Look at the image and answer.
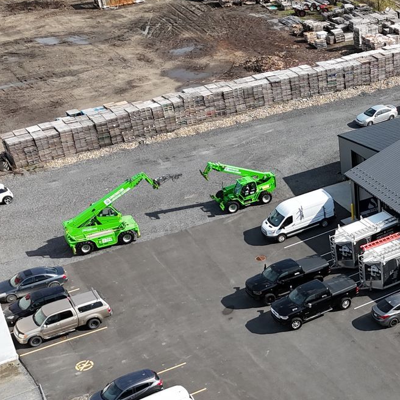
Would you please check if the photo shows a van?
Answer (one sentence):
Yes, there's a van down there.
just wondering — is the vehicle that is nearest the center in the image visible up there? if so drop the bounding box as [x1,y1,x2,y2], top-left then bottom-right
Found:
[187,165,275,217]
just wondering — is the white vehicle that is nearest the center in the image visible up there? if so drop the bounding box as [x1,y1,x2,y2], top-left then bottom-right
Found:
[262,186,337,242]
